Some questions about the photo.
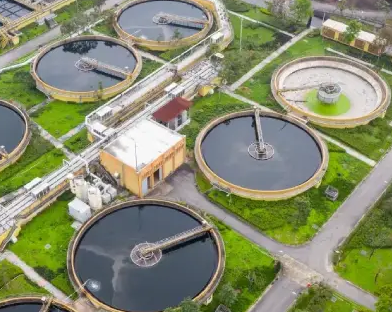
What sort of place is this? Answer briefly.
industrial area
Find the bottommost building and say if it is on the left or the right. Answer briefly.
left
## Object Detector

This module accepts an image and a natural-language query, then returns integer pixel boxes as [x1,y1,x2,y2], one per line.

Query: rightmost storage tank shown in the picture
[269,56,390,129]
